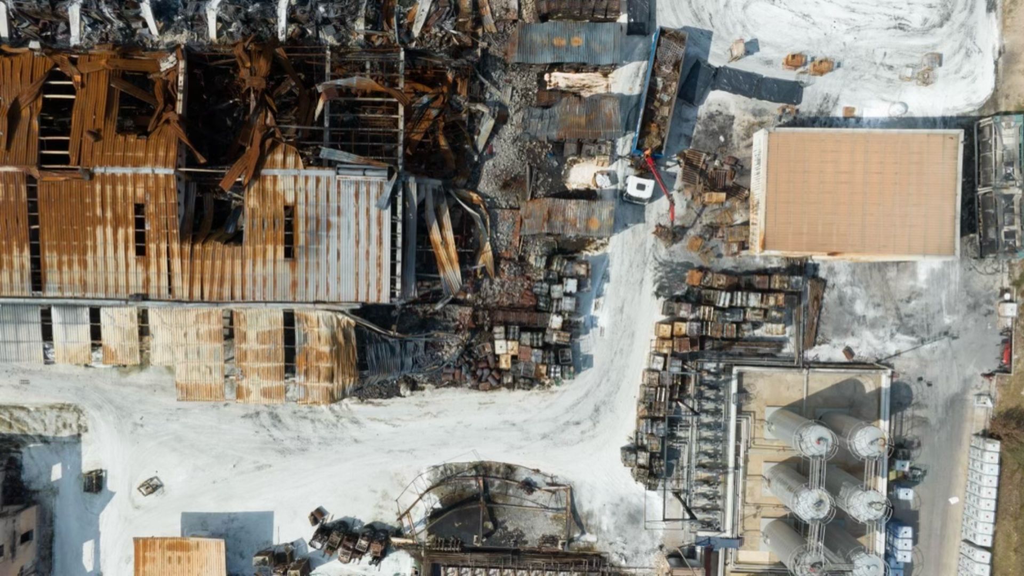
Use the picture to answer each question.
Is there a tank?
Yes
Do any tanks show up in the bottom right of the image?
Yes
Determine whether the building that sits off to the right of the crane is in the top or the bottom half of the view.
top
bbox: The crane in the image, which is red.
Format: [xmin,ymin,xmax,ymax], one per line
[638,147,679,230]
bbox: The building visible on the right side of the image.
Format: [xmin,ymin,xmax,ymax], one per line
[745,129,968,262]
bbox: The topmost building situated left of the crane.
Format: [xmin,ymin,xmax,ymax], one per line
[0,0,516,404]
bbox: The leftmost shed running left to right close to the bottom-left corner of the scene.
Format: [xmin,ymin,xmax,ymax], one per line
[133,537,225,576]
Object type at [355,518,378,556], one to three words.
work vehicle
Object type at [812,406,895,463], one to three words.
storage tank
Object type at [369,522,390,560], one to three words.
work vehicle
